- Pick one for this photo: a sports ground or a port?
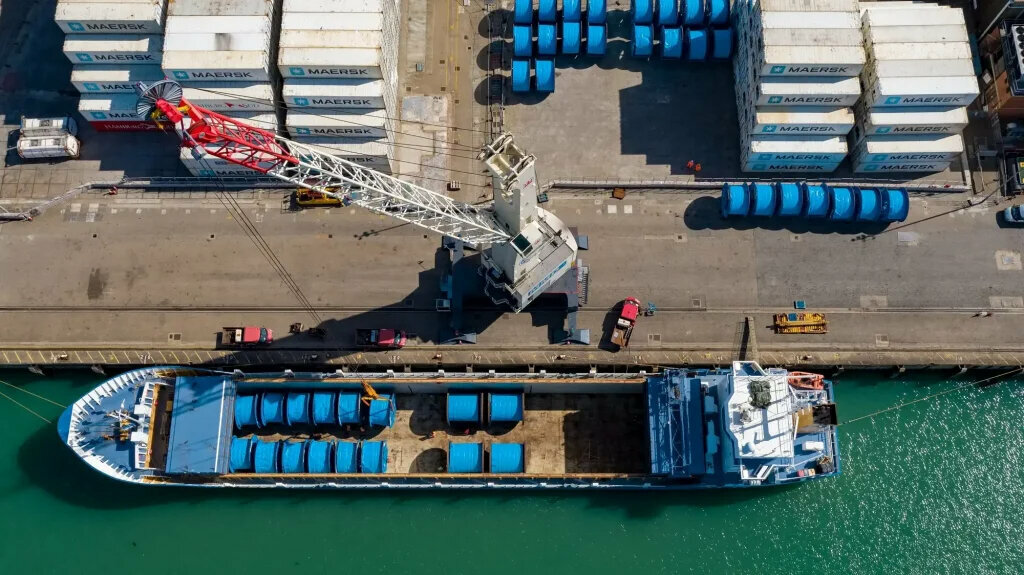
port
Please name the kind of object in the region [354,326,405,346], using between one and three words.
vehicle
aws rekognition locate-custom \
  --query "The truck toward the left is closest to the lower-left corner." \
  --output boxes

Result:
[218,323,270,344]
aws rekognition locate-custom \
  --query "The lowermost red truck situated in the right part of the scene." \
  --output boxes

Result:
[615,298,639,347]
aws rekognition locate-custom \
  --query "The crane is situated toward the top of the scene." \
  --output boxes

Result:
[130,69,591,387]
